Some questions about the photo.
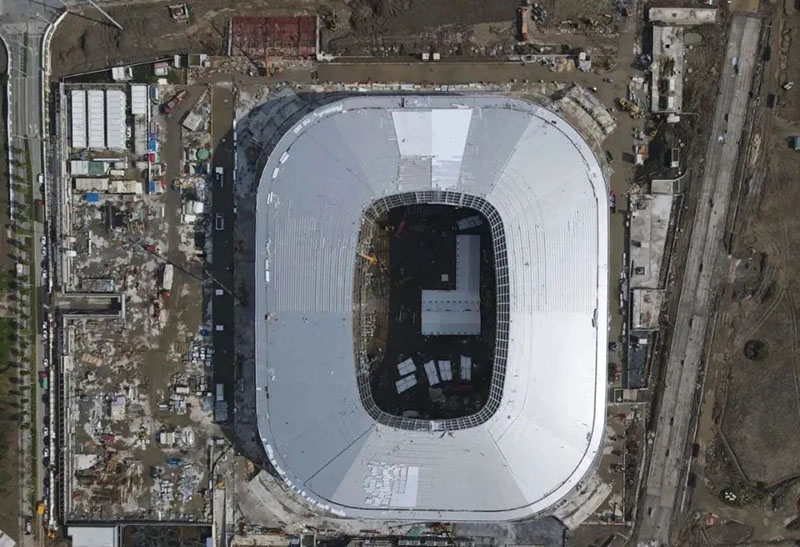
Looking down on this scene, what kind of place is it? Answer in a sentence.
The area seen from above is a sports ground.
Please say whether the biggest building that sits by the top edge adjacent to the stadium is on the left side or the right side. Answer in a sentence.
The biggest building that sits by the top edge adjacent to the stadium sits on the right side.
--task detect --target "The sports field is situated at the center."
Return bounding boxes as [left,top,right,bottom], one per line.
[388,204,497,413]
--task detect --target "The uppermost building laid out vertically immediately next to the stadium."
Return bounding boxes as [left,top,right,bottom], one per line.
[648,25,683,115]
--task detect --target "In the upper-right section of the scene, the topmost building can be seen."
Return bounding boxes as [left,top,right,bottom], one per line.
[646,8,716,26]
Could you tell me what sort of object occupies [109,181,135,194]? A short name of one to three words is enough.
building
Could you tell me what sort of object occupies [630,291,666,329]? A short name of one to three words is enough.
building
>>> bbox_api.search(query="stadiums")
[235,80,623,547]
